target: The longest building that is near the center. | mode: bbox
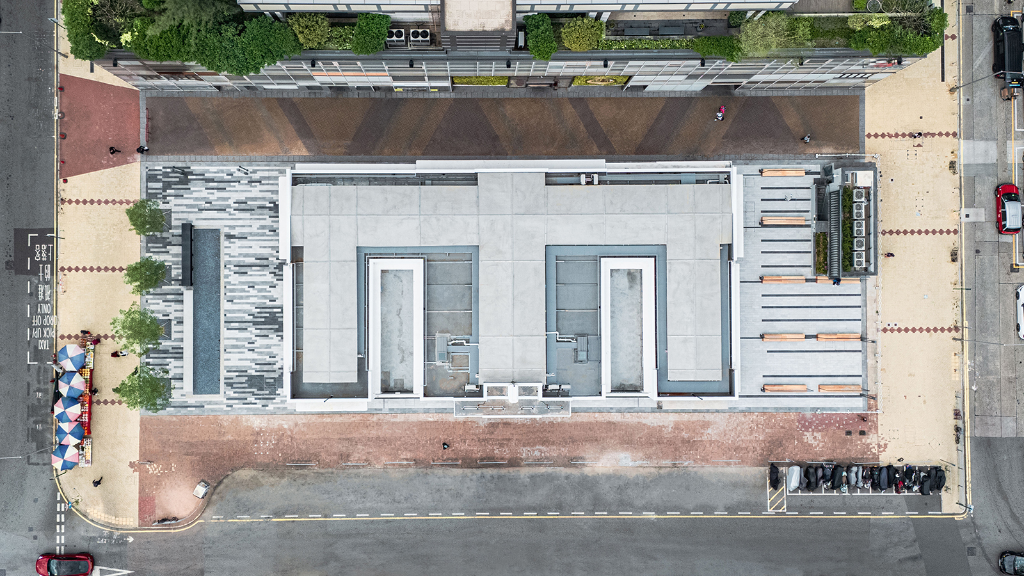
[279,160,743,418]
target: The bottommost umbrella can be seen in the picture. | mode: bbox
[50,446,79,473]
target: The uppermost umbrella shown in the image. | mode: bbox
[55,344,84,371]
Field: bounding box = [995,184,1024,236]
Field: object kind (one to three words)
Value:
car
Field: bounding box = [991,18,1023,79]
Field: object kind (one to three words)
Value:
van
